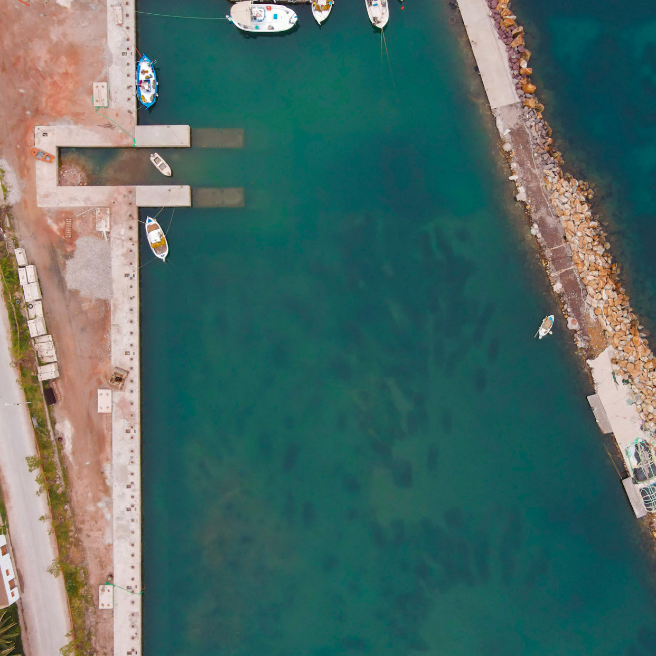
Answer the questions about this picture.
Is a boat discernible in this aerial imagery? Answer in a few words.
Yes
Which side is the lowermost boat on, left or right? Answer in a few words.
right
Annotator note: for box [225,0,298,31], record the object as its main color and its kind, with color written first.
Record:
white boat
